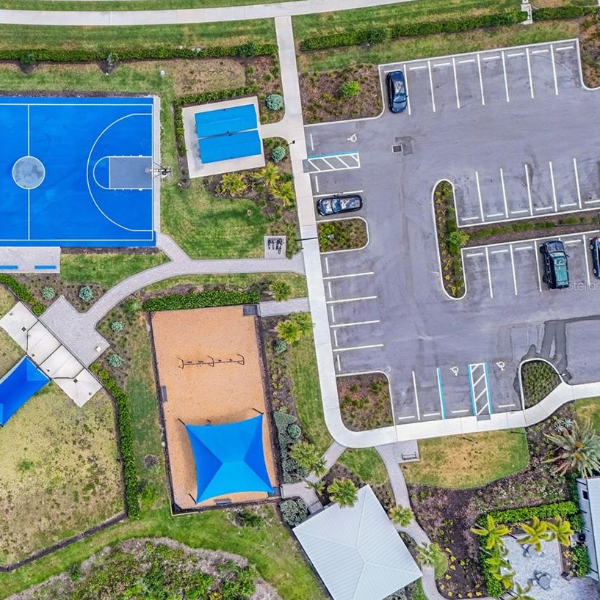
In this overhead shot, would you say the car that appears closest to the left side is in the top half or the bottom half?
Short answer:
top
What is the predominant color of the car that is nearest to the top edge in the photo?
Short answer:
blue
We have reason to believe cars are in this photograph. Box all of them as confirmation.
[587,237,600,278]
[539,242,570,289]
[383,69,410,115]
[315,194,363,216]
